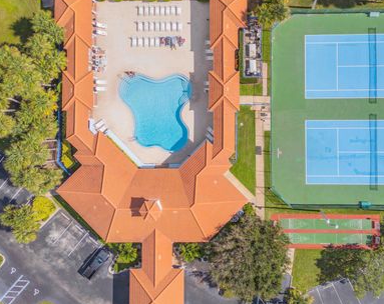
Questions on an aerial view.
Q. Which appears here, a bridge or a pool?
pool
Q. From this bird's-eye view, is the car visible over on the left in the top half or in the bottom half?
bottom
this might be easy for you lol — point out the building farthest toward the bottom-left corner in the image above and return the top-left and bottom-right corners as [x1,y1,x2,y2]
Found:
[55,0,250,304]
